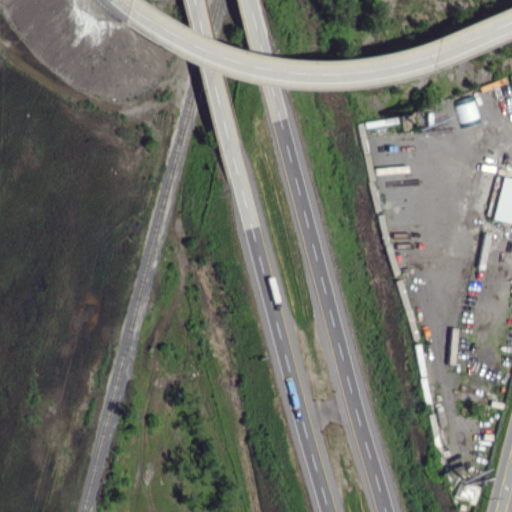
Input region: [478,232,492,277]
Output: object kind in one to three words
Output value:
vehicle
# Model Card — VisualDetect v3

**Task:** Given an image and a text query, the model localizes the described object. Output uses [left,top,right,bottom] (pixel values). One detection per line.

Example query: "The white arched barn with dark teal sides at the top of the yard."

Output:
[454,96,480,128]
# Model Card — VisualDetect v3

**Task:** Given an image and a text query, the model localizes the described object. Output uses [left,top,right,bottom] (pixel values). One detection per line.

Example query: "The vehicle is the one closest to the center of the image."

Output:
[269,276,282,310]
